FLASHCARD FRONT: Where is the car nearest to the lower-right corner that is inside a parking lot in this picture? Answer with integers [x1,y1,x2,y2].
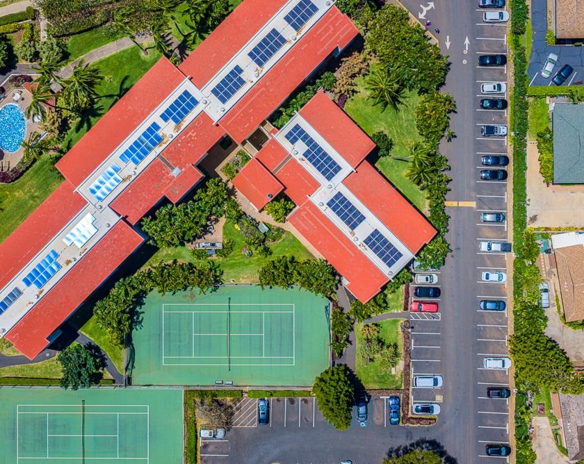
[485,444,512,457]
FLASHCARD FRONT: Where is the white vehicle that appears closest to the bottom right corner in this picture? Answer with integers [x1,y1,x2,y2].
[482,356,511,370]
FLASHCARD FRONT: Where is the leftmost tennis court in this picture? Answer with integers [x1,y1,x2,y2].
[0,388,182,464]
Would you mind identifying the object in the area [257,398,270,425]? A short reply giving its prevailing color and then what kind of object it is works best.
blue vehicle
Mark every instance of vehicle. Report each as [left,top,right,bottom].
[478,0,505,9]
[538,281,552,309]
[552,62,572,87]
[414,287,440,299]
[415,374,440,388]
[413,272,439,286]
[479,211,506,224]
[413,259,439,271]
[485,444,512,457]
[415,403,438,416]
[479,241,511,253]
[480,168,507,182]
[480,98,507,110]
[480,271,507,283]
[481,154,508,167]
[479,82,507,94]
[485,386,511,400]
[482,356,511,370]
[411,301,437,314]
[257,398,270,425]
[388,397,401,422]
[479,300,506,312]
[482,9,509,22]
[479,54,506,66]
[539,52,559,79]
[479,124,510,137]
[202,427,224,439]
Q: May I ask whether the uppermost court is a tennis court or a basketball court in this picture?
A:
tennis court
